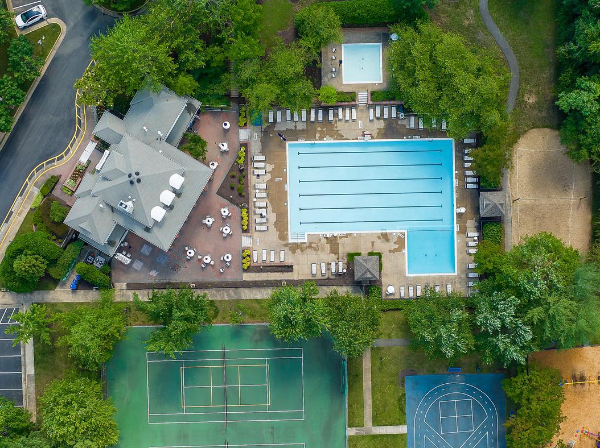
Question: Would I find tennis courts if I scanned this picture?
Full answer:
Yes, a tennis court appears in the view.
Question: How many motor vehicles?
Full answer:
In total, there is 1 motor vehicle in the scene.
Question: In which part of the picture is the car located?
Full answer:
You can find the car in the top left area of the picture.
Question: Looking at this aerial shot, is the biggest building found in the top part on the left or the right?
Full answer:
It is on the left.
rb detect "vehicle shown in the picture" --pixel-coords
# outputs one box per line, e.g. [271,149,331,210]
[16,5,48,28]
